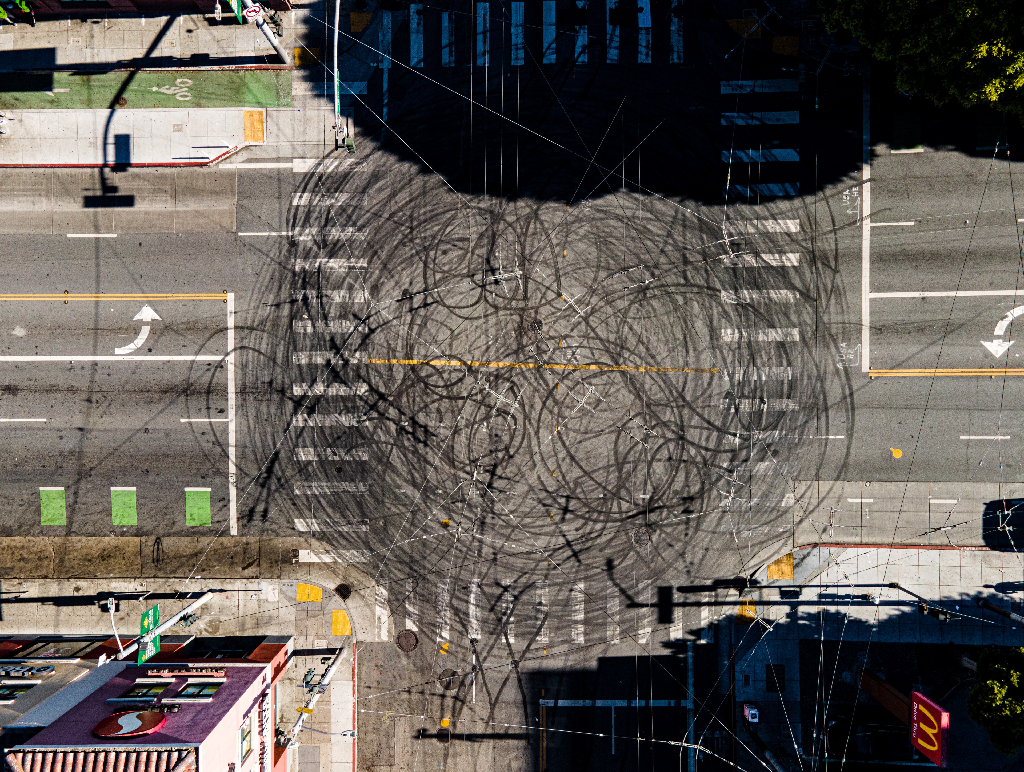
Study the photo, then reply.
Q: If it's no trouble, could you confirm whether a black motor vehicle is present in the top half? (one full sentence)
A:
No, I see no black motor vehicle in the top half.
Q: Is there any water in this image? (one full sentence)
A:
No, the picture contains no water.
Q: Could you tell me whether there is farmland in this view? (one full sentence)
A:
No, no farmland is visible.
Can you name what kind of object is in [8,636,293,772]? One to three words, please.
building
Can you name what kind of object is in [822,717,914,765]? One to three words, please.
car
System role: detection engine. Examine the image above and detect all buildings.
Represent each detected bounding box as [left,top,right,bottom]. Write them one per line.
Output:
[8,636,293,772]
[0,0,292,10]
